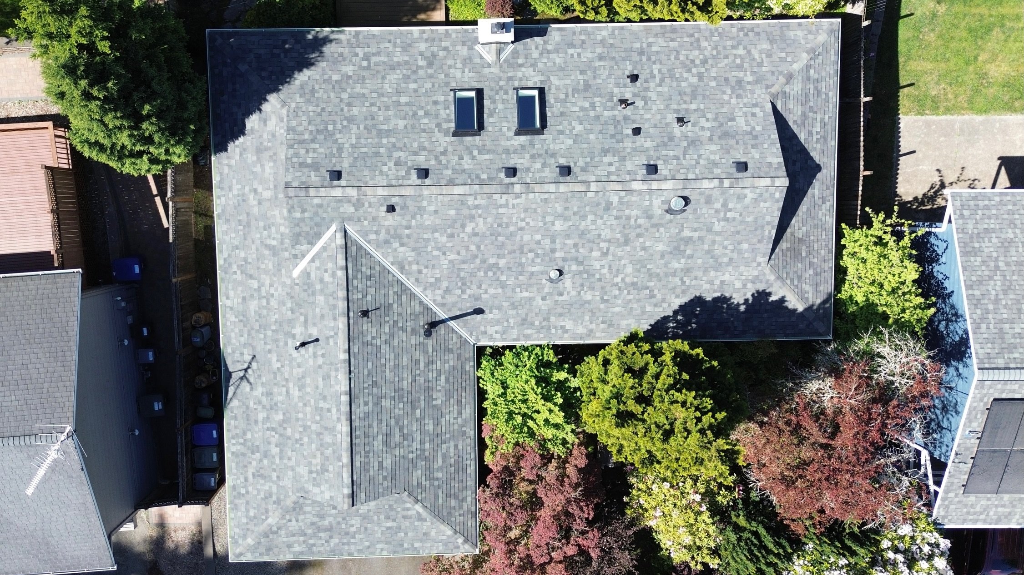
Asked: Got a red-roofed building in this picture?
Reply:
No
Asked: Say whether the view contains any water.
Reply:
No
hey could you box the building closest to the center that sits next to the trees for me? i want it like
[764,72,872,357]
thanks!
[206,18,841,562]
